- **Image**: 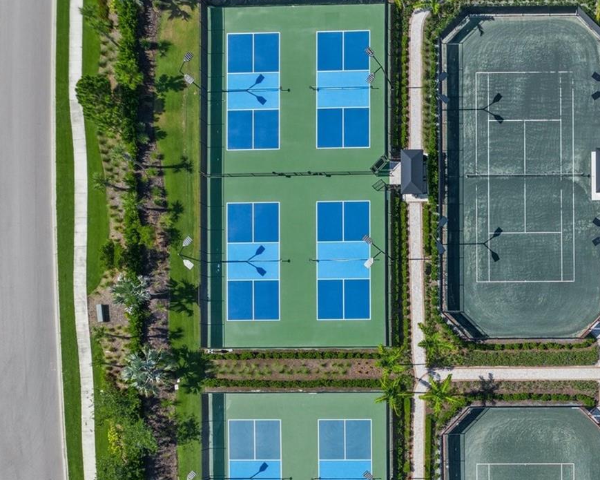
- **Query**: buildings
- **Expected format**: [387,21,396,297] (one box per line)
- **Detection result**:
[400,150,424,196]
[591,148,600,201]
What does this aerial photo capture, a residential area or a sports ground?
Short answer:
sports ground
